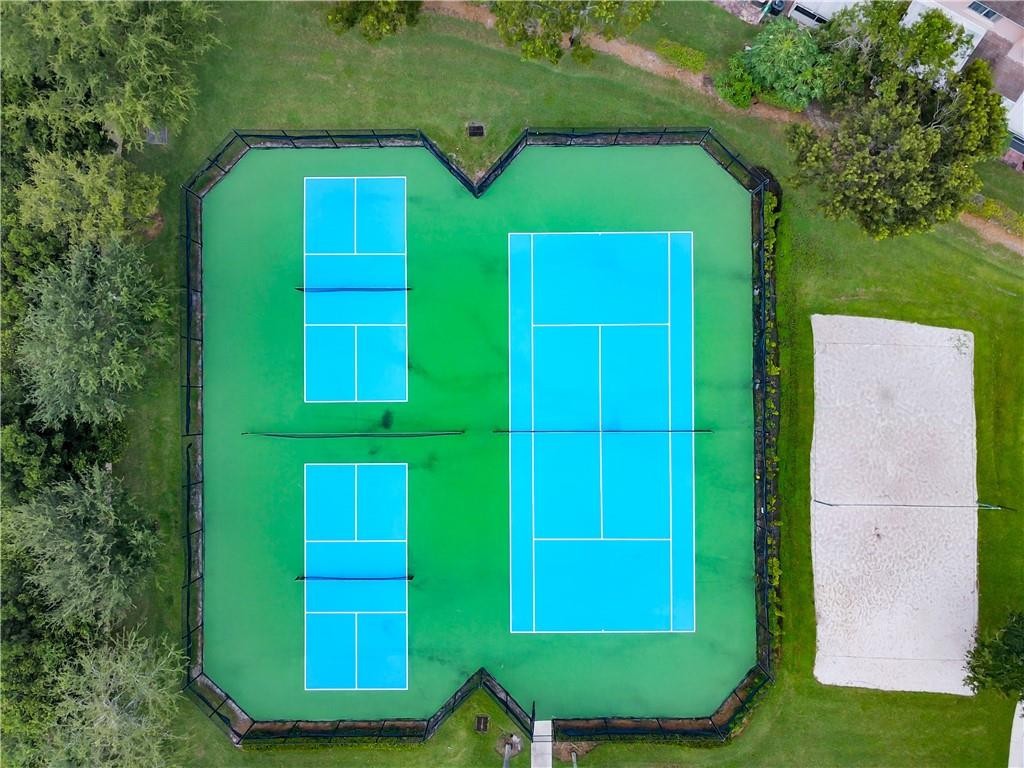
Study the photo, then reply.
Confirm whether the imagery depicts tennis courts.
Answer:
Yes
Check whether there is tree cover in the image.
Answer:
Yes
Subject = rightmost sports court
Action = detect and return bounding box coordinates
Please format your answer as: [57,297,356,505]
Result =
[810,314,979,695]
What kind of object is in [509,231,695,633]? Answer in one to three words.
tennis court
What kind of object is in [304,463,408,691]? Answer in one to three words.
sports court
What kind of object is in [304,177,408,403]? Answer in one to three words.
sports court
